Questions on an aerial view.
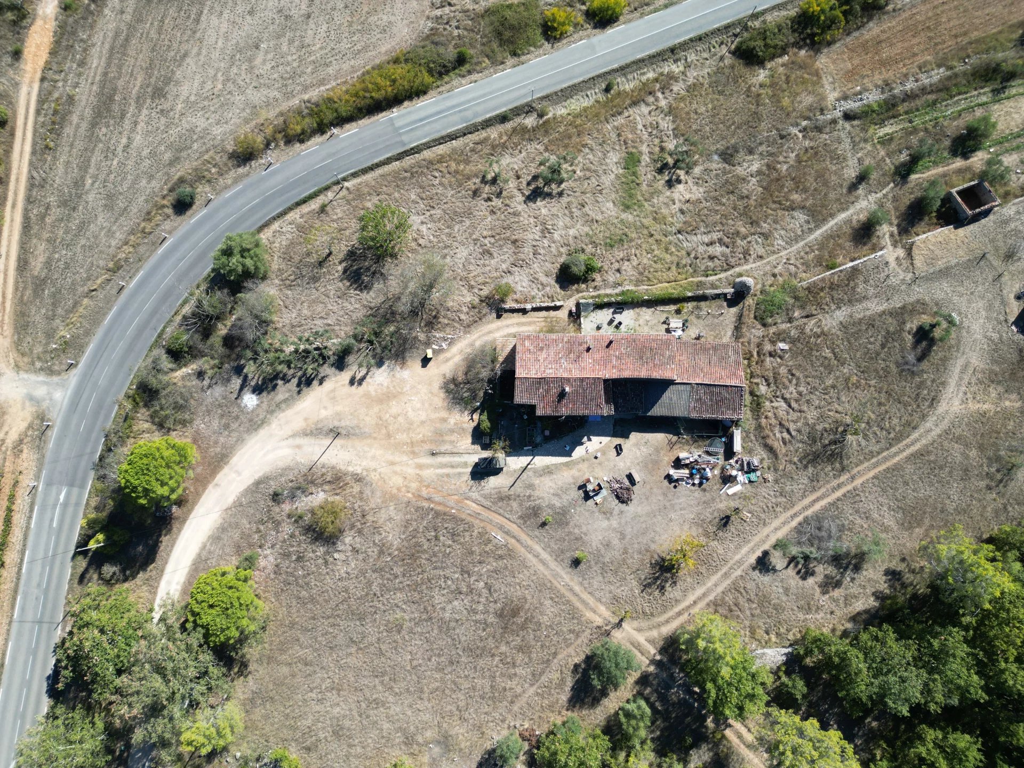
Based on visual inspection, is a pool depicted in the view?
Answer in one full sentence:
No, no pool is visible in the scene.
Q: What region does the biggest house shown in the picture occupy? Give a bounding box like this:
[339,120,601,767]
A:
[513,333,746,420]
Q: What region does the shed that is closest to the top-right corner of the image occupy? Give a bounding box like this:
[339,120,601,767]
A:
[941,180,999,232]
